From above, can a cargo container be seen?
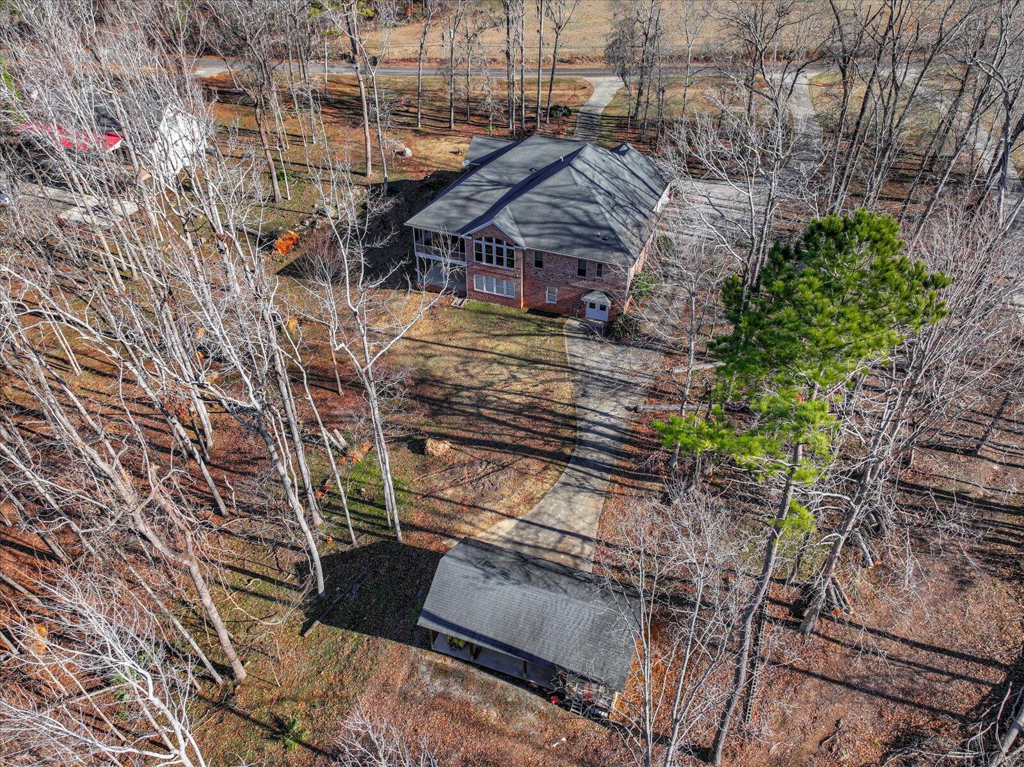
No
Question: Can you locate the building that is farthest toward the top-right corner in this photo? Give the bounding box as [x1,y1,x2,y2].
[395,135,680,328]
